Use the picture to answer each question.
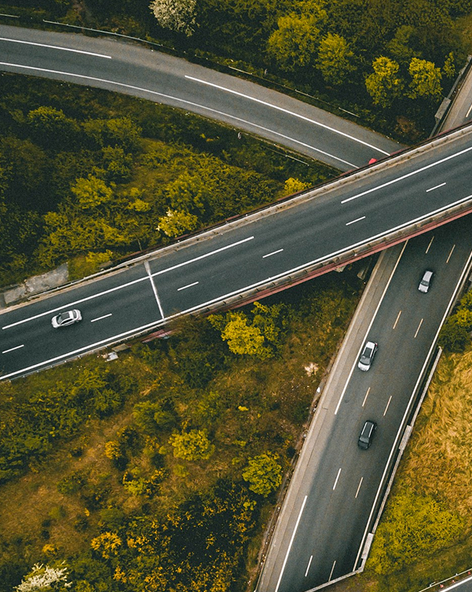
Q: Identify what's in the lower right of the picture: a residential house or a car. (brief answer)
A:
car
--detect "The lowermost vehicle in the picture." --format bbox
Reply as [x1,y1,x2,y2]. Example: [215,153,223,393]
[355,420,375,450]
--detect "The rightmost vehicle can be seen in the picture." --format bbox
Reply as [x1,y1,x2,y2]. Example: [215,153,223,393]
[417,270,433,294]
